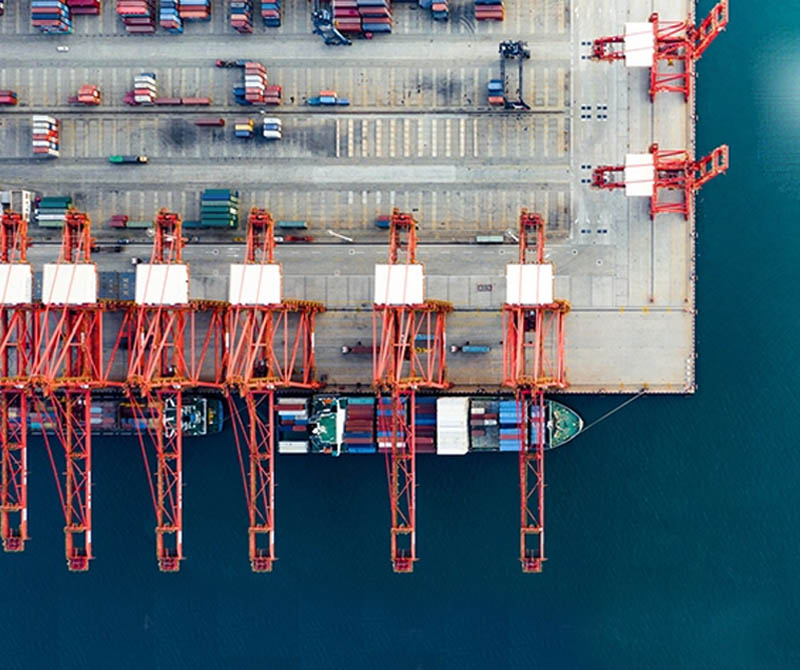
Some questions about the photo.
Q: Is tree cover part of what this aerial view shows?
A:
No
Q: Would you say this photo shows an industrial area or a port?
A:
port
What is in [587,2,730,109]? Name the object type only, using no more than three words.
container crane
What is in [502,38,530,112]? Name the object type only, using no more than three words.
container crane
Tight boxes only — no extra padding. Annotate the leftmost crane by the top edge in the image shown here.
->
[312,0,351,45]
